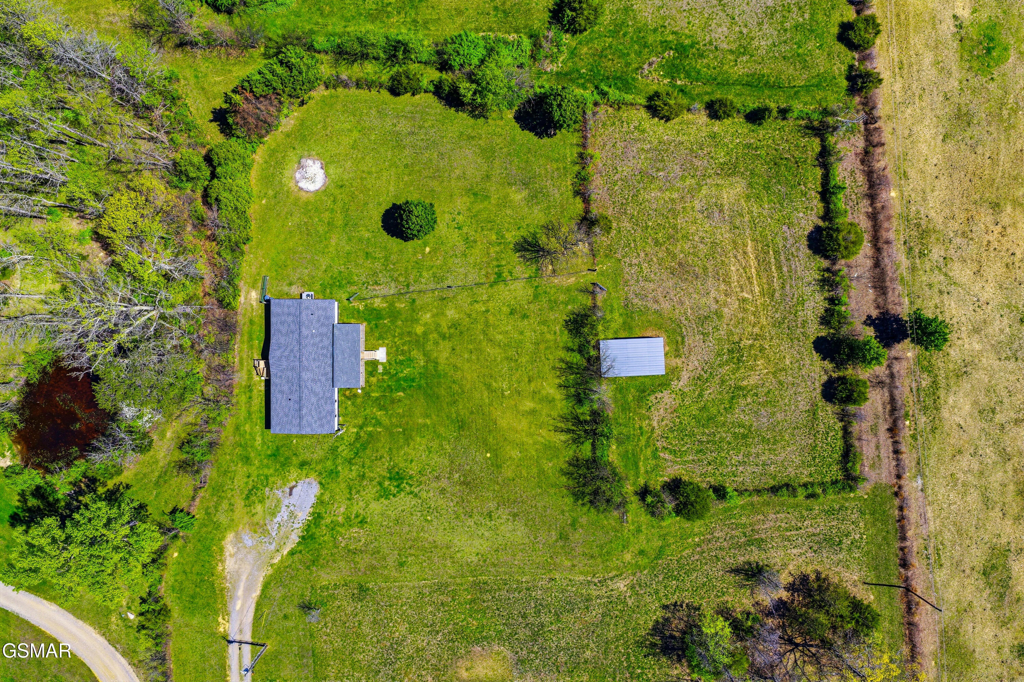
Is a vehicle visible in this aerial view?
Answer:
No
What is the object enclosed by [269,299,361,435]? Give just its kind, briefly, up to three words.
house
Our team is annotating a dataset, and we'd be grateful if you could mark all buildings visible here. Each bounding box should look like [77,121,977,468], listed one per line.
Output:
[599,337,665,377]
[269,299,361,435]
